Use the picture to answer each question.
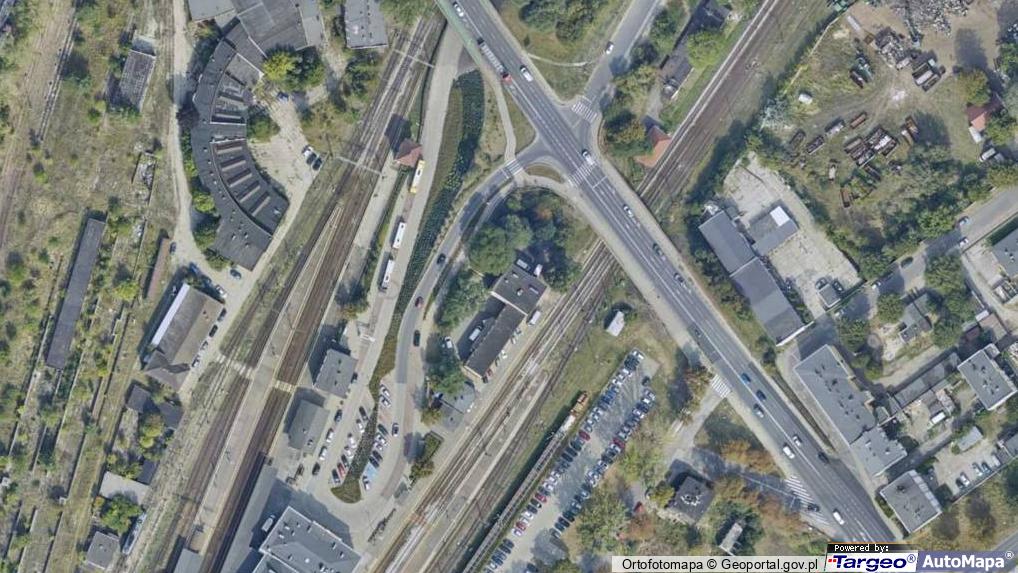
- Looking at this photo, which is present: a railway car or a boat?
railway car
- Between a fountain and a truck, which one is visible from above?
truck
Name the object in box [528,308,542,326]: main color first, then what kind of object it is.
white vehicle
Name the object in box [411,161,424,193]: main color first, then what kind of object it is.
white vehicle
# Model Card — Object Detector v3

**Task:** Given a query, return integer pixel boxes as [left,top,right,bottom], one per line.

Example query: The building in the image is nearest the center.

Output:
[492,264,547,315]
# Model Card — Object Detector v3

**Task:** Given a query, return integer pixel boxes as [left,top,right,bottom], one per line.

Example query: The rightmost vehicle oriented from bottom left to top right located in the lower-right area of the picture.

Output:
[930,411,947,425]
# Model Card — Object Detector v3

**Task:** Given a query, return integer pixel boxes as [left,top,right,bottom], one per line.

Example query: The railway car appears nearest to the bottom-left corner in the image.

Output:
[122,512,149,555]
